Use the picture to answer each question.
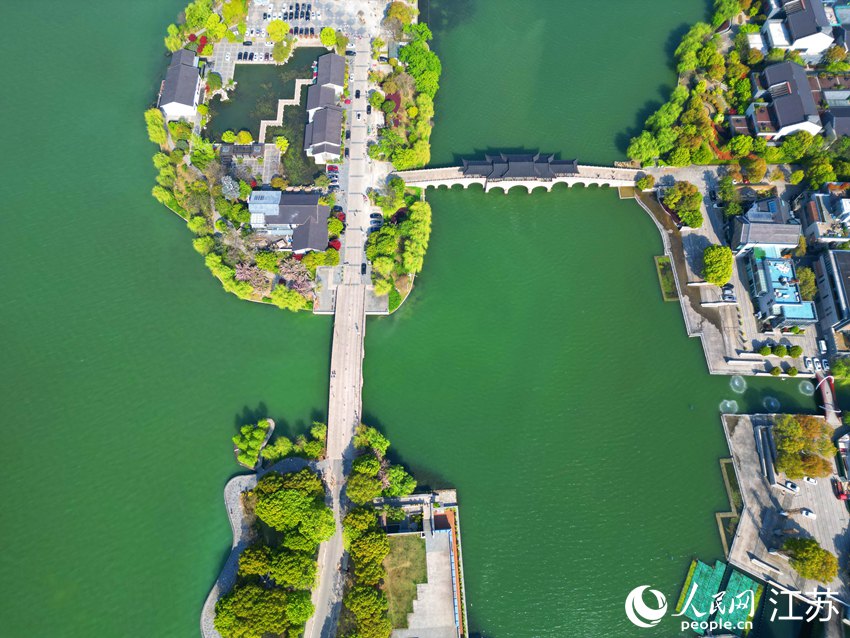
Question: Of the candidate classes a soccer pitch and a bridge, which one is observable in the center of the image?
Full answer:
The one visible in the center of the image is a bridge.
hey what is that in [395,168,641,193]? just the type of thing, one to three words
bridge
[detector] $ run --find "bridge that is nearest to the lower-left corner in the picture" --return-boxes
[325,285,368,460]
